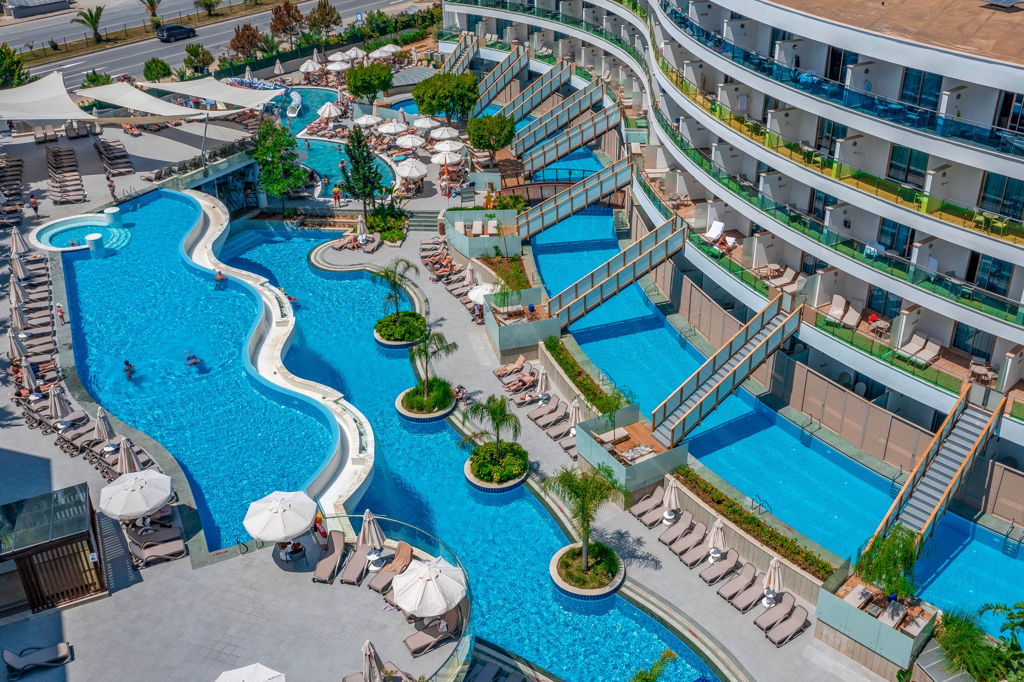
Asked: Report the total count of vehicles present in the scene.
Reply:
1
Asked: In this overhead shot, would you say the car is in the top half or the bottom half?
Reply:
top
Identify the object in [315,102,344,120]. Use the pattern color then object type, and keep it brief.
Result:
white umbrella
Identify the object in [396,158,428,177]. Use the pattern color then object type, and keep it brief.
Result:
white umbrella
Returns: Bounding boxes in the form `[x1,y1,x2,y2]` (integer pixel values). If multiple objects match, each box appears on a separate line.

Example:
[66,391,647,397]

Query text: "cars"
[151,20,202,43]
